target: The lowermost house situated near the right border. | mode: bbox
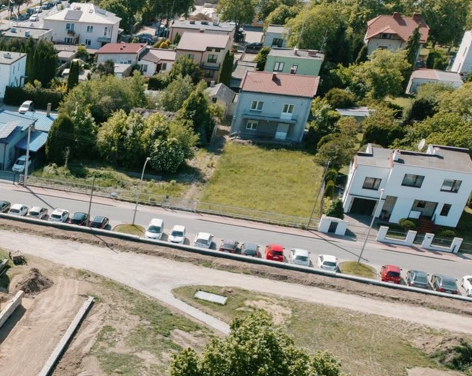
[344,138,472,232]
